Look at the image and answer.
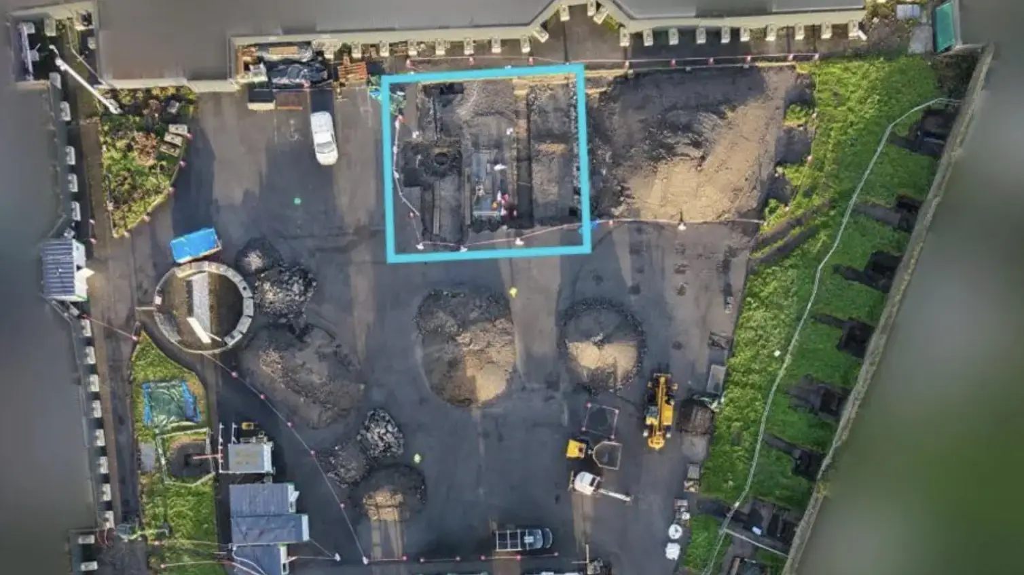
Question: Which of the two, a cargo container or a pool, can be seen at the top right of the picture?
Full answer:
The one visible at the top right of the picture is a cargo container.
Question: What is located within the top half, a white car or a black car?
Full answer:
What appears within the top half is a white car.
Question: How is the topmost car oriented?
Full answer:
Seen from above, the topmost car lies vertically.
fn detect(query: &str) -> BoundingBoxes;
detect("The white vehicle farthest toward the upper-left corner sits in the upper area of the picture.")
[312,111,339,167]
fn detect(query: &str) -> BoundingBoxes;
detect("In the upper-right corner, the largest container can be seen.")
[924,1,954,61]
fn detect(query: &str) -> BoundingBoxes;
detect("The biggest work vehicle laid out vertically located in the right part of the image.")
[642,369,678,448]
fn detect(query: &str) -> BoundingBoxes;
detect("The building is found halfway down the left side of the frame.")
[42,238,99,302]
